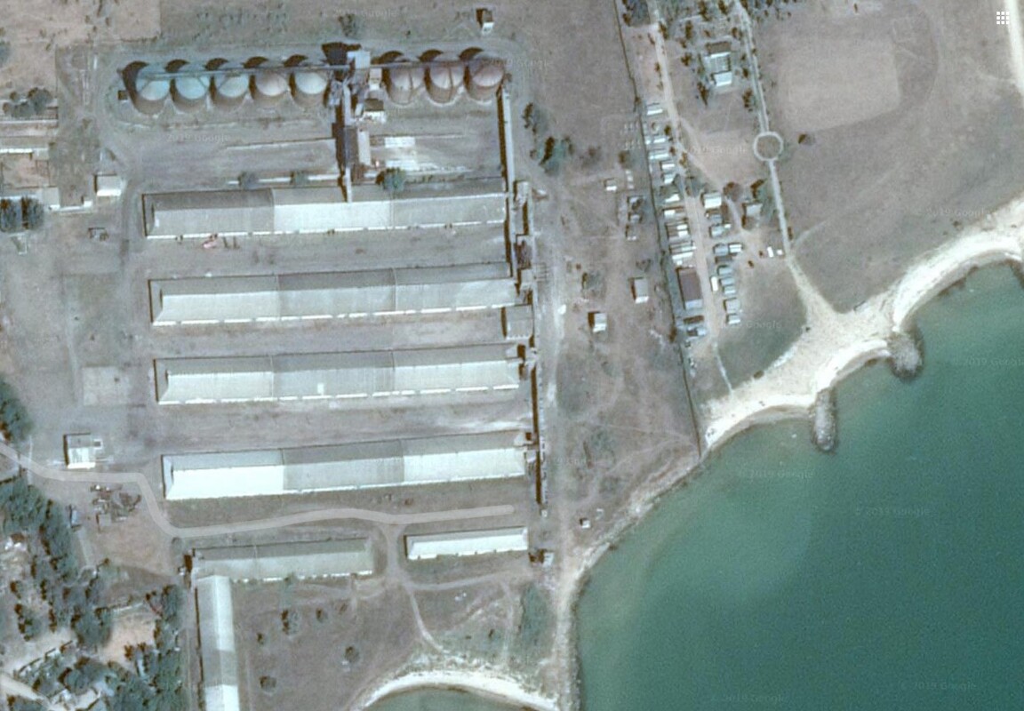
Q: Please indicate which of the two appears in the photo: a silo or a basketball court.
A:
silo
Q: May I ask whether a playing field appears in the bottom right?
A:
No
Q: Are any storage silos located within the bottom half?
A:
No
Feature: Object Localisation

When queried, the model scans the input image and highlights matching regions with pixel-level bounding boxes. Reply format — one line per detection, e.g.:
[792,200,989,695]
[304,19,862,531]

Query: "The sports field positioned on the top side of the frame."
[776,51,897,131]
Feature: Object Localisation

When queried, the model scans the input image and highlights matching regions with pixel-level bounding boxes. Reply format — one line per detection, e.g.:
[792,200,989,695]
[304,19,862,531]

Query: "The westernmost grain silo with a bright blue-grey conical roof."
[135,67,172,114]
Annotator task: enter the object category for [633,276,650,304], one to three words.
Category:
house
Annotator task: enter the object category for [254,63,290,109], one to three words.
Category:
silo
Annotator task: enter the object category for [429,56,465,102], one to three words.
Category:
silo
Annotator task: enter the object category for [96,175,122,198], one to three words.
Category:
building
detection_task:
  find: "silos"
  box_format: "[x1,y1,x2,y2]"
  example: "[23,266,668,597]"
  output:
[175,66,211,112]
[293,61,329,107]
[214,64,251,110]
[468,54,505,100]
[388,58,425,104]
[254,63,290,109]
[135,67,172,114]
[429,56,465,102]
